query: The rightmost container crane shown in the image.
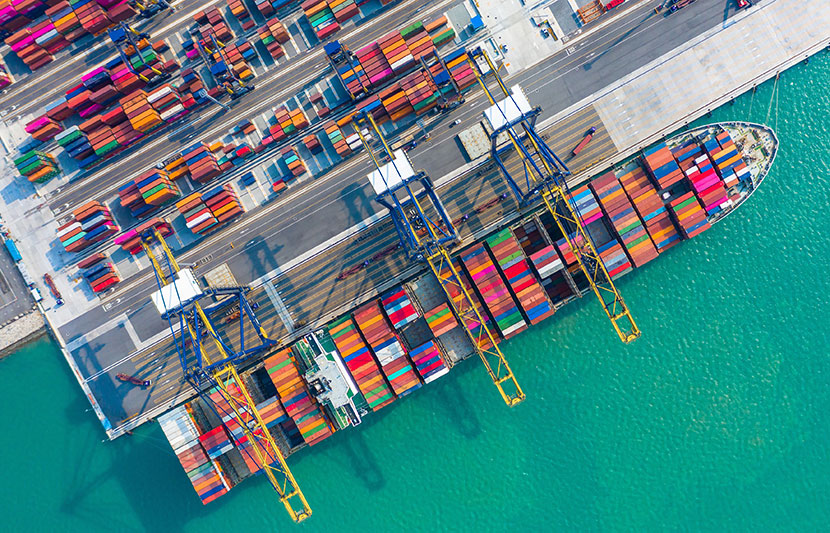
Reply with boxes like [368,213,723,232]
[466,48,641,343]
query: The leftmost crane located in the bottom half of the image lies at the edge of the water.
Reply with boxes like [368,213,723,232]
[138,230,313,524]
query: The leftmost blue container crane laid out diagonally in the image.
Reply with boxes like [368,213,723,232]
[104,19,171,88]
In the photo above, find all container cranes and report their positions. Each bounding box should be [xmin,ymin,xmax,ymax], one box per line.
[351,113,525,407]
[193,32,254,100]
[466,48,641,343]
[138,230,313,524]
[323,36,375,108]
[418,47,465,114]
[104,19,171,88]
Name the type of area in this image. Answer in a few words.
port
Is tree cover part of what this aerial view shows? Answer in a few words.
No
